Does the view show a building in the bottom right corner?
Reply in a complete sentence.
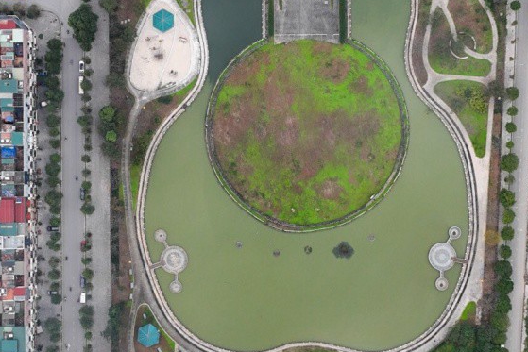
No, no building can be made out in the bottom right corner.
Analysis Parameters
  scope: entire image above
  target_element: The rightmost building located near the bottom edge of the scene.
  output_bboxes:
[139,325,158,346]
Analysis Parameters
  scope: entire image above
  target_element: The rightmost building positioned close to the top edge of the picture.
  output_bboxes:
[153,10,172,33]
